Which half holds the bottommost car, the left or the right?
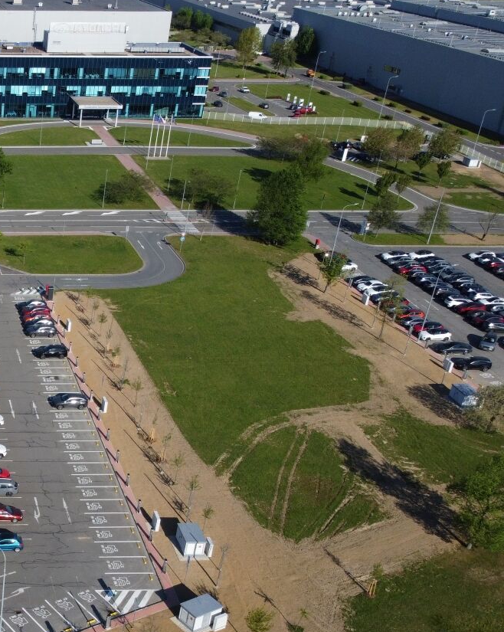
left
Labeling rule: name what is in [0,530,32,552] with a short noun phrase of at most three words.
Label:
car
